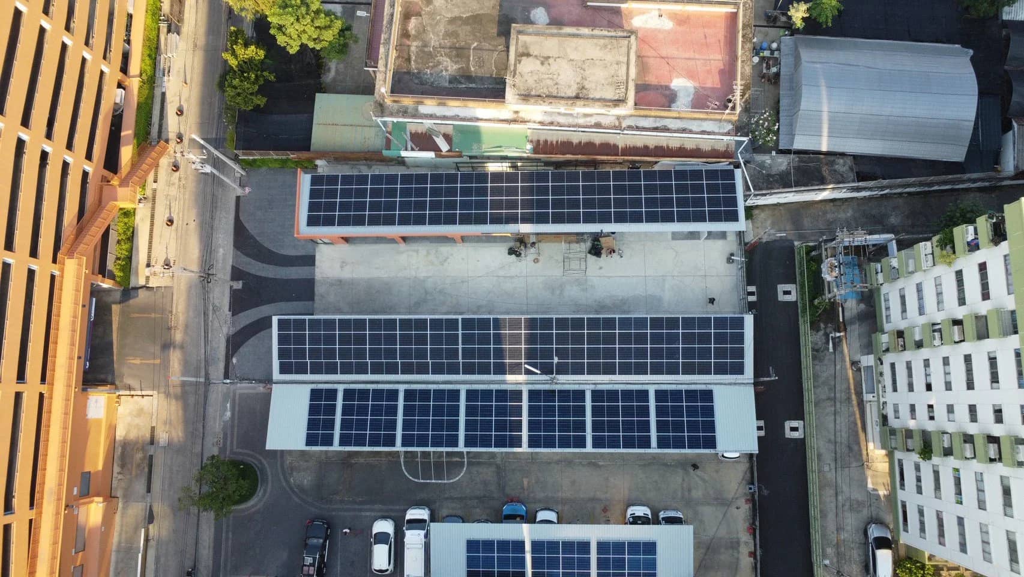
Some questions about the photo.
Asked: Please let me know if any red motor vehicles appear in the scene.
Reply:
No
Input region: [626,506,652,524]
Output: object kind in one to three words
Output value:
vehicle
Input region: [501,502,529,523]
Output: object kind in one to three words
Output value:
car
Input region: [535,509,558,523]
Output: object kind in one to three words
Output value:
car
